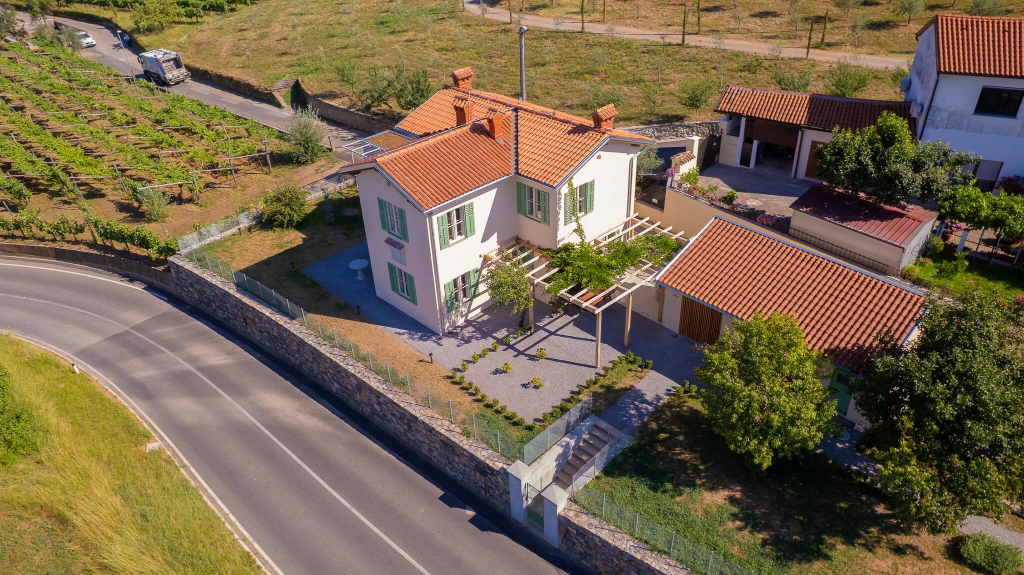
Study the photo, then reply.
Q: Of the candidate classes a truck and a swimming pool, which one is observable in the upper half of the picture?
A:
truck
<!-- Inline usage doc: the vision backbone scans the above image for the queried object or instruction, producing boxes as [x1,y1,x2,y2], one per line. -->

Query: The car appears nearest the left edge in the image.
[76,30,97,49]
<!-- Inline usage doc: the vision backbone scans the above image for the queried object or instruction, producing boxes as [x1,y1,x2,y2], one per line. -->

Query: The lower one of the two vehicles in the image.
[135,46,186,83]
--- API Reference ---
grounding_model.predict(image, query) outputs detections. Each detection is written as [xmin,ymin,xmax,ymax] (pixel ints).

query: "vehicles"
[135,46,186,83]
[76,30,97,49]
